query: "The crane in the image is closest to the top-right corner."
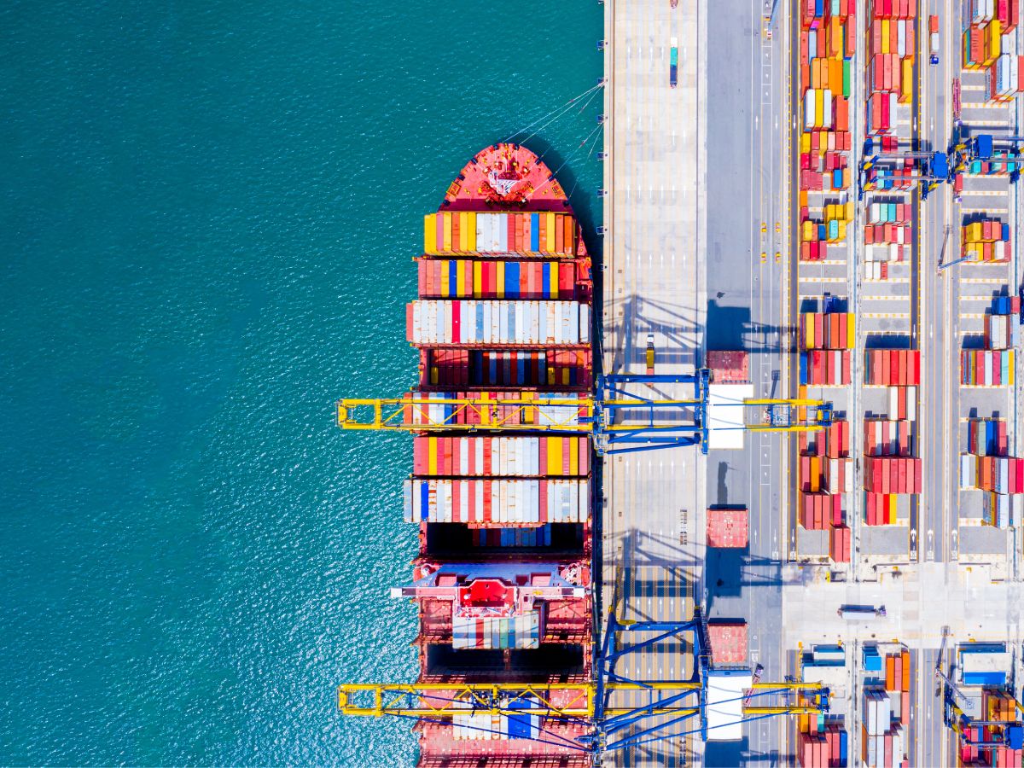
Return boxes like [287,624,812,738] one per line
[948,134,1024,183]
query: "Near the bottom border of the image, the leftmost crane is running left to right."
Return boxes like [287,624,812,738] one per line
[334,598,835,753]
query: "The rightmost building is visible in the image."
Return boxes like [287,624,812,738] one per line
[955,645,1010,684]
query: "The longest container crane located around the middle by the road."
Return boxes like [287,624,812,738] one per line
[334,364,835,464]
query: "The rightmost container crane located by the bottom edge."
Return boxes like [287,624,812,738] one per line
[947,691,1024,749]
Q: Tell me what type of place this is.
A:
port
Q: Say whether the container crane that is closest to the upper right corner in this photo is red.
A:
No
